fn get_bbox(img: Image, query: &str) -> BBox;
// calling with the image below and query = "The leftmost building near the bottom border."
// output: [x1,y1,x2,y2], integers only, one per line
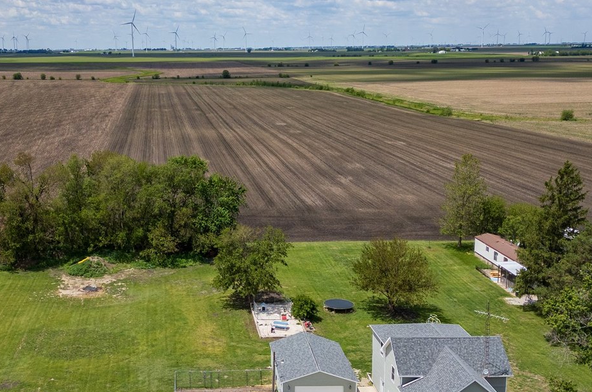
[270,333,360,392]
